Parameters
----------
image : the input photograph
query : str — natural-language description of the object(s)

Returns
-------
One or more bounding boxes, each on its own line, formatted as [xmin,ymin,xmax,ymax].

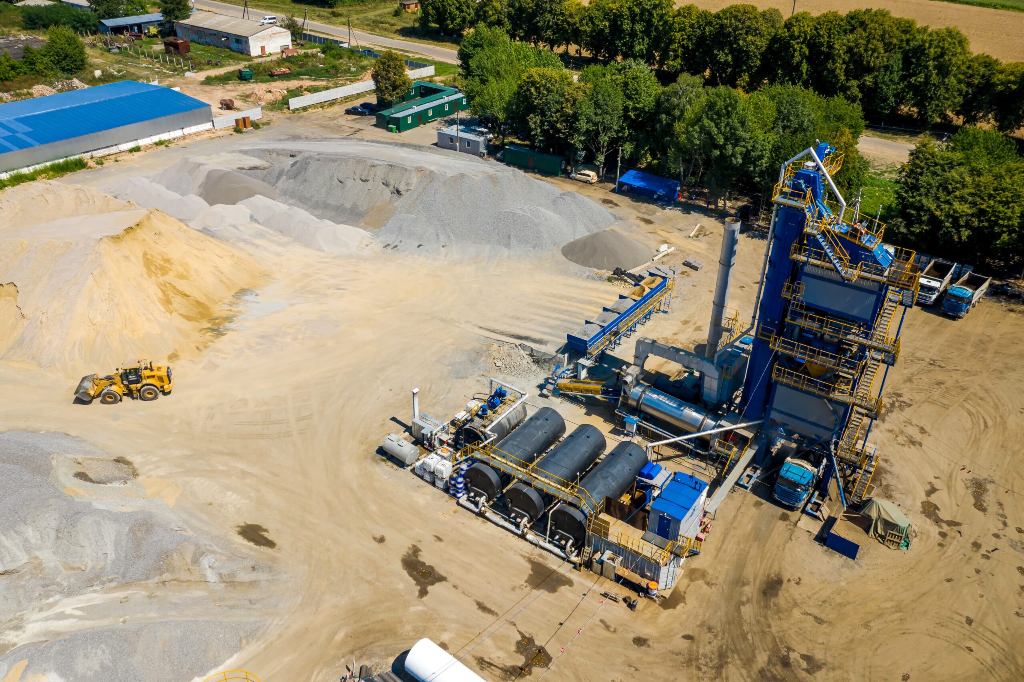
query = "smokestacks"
[708,214,749,363]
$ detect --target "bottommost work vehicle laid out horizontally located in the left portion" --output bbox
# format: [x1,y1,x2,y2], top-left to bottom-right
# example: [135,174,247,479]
[72,356,174,406]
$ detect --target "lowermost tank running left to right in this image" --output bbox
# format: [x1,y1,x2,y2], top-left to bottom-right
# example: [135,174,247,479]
[408,641,496,682]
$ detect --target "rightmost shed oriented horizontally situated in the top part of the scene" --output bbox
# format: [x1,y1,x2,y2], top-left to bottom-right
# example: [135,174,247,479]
[615,168,683,204]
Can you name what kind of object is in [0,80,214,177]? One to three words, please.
building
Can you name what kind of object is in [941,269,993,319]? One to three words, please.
truck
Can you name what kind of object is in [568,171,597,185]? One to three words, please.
car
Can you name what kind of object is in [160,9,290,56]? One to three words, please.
barn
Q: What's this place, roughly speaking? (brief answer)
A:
industrial area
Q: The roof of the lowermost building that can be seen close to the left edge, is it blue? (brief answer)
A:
Yes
